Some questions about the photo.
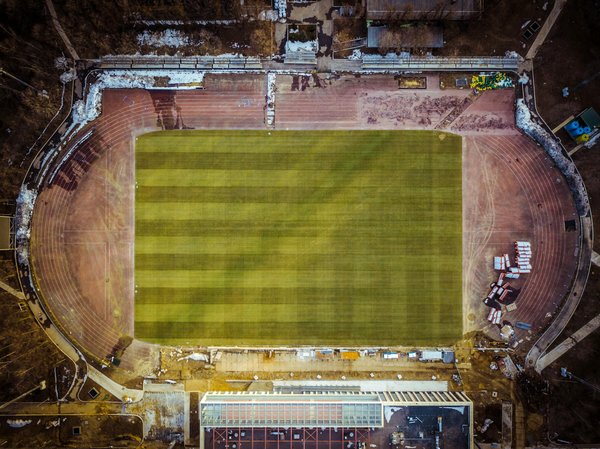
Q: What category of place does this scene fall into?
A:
sports ground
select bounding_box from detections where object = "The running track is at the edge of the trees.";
[30,75,580,377]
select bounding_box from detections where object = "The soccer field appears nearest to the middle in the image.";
[132,128,465,348]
